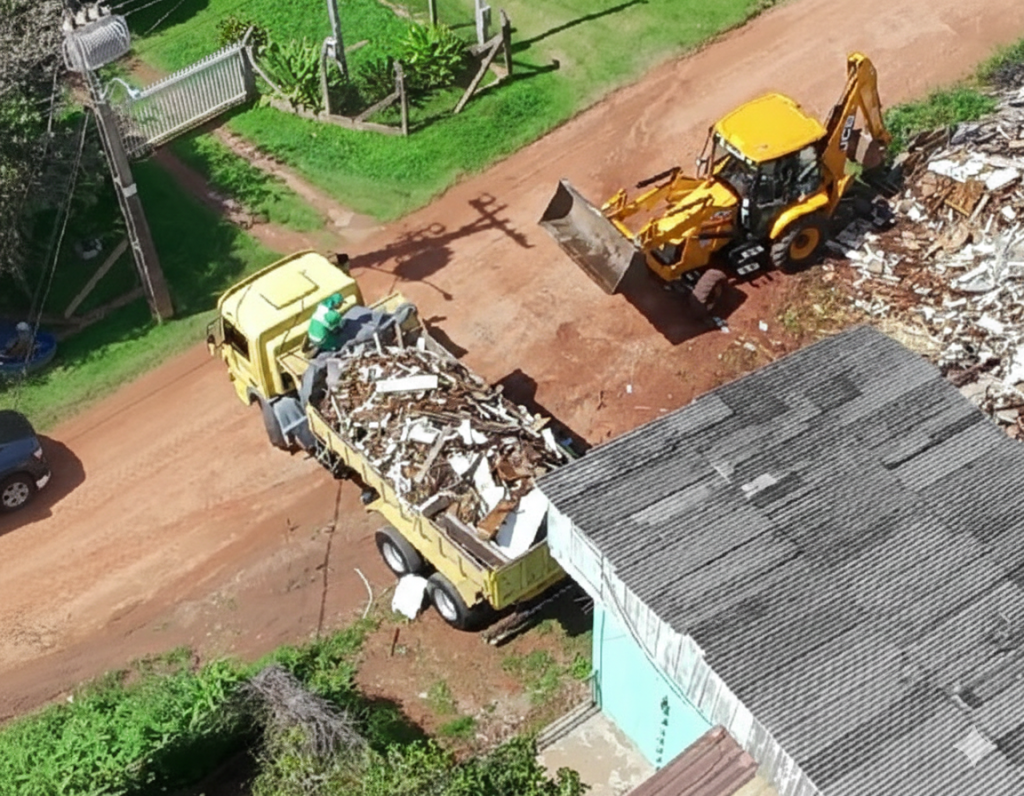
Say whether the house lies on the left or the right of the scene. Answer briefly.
right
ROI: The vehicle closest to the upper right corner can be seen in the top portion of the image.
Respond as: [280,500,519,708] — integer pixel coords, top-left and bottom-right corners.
[536,51,895,310]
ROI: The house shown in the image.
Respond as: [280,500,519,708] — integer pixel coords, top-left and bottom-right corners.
[531,327,1024,796]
